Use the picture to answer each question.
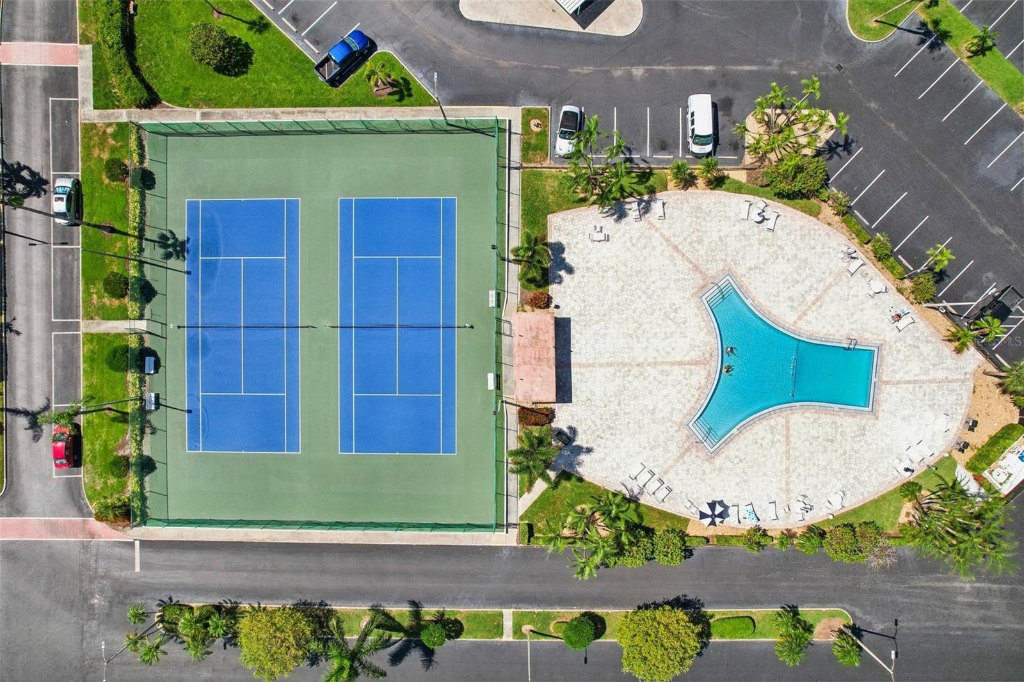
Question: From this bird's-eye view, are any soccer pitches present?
No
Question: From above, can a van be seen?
Yes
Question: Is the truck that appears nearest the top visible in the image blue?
Yes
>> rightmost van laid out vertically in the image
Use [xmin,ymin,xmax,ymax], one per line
[688,95,718,159]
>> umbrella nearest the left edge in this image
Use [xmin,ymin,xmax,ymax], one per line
[698,499,726,527]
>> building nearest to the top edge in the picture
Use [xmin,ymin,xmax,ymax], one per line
[514,313,556,406]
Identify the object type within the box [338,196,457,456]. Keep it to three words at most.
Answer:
tennis court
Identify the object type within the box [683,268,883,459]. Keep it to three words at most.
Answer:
swimming pool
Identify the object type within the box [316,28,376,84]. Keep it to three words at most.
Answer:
truck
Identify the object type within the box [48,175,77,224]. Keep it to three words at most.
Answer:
car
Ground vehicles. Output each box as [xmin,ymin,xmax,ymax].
[48,175,77,224]
[316,28,376,84]
[962,276,1023,330]
[688,95,718,159]
[556,104,581,156]
[47,422,75,471]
